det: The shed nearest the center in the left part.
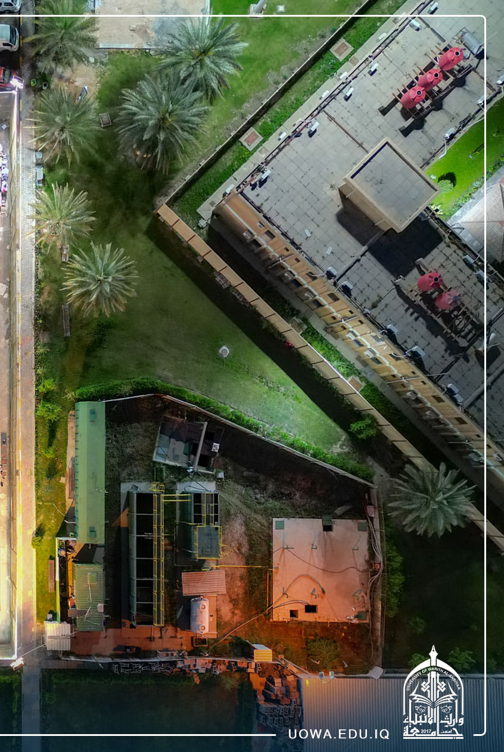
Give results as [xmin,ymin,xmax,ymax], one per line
[145,416,224,473]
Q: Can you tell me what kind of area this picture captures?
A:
industrial area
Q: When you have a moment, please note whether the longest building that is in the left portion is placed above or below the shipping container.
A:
above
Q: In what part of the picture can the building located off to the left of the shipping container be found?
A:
bottom left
